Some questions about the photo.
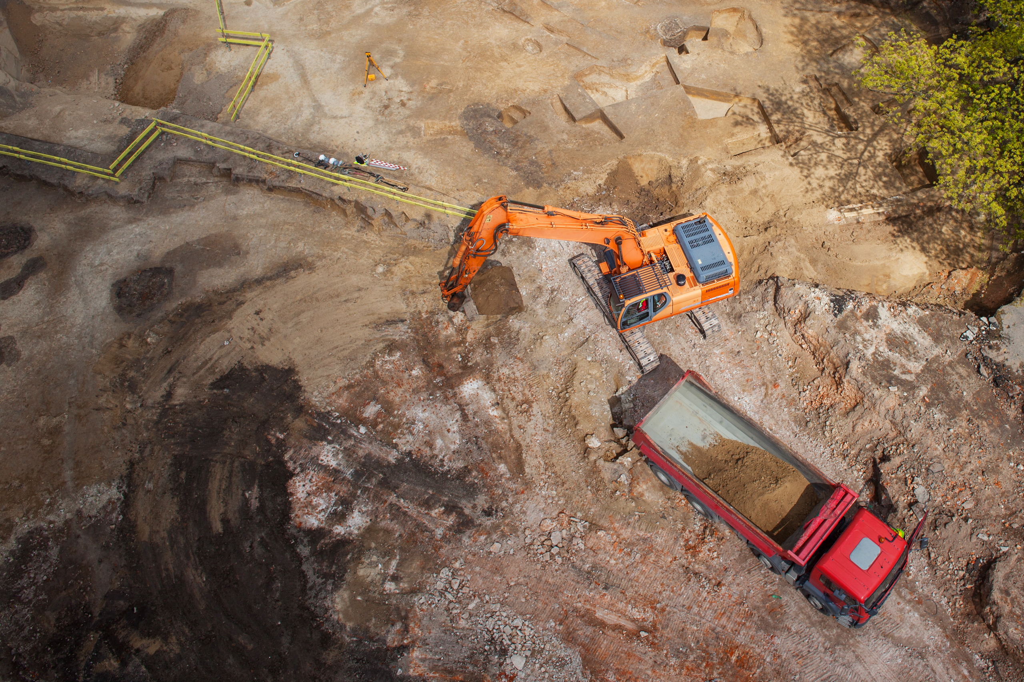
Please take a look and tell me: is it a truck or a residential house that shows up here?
truck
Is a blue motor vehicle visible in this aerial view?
No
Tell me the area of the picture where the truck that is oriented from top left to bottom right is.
bottom right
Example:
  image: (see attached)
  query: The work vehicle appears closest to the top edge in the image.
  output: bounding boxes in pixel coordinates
[438,191,745,376]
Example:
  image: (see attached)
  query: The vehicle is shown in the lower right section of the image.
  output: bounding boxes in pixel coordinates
[633,367,935,635]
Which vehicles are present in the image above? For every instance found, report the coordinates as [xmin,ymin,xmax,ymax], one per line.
[438,191,745,376]
[633,367,935,635]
